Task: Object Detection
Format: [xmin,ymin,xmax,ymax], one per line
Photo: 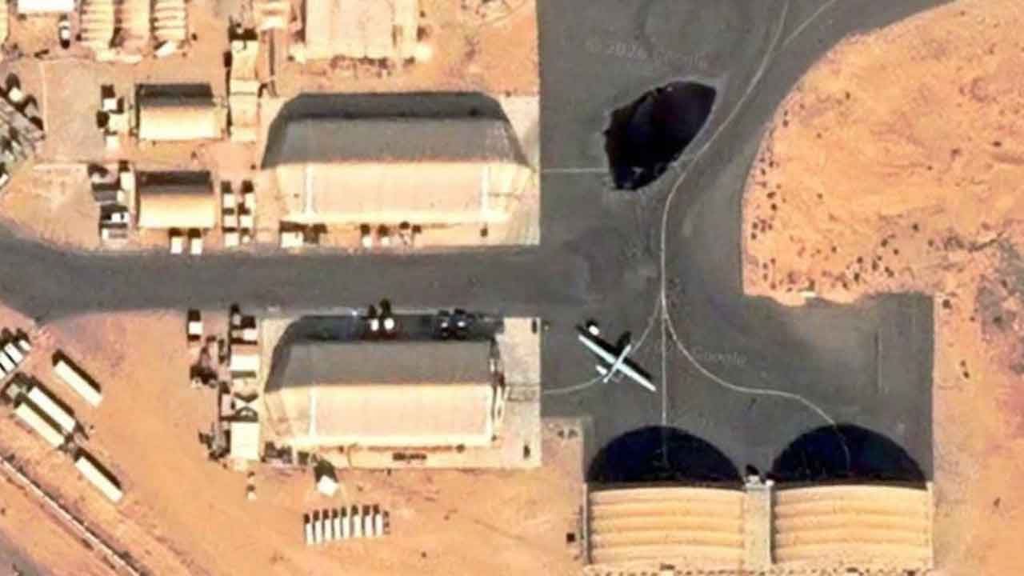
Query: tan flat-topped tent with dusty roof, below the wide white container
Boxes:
[231,378,258,395]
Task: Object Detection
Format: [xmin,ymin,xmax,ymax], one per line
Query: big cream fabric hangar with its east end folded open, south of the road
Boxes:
[262,335,505,449]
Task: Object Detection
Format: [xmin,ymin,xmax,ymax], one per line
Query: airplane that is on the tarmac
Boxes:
[578,335,657,391]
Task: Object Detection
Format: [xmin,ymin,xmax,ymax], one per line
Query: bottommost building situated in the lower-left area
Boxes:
[230,423,259,462]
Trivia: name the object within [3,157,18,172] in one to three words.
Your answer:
vehicle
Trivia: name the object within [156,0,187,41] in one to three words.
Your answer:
tent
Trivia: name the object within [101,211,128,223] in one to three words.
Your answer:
vehicle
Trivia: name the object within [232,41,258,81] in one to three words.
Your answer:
building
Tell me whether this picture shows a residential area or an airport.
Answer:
airport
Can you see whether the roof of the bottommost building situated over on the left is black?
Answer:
No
